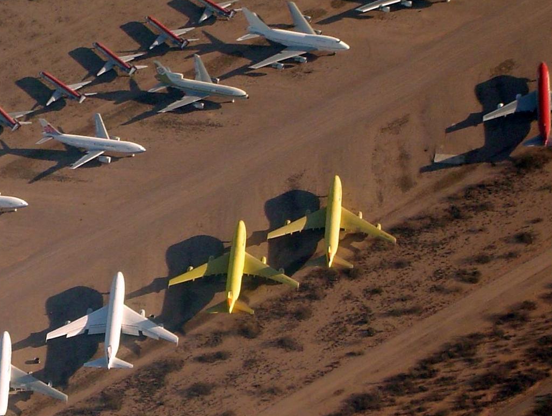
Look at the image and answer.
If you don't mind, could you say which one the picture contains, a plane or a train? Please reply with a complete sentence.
This aerial view contains a plane.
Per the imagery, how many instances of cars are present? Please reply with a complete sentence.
The picture shows no cars.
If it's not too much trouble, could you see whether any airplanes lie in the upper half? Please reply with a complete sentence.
Yes, an airplane can be seen in the upper half.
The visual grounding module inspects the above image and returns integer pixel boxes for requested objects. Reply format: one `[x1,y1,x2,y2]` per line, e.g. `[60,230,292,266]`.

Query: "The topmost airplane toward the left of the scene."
[193,0,244,24]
